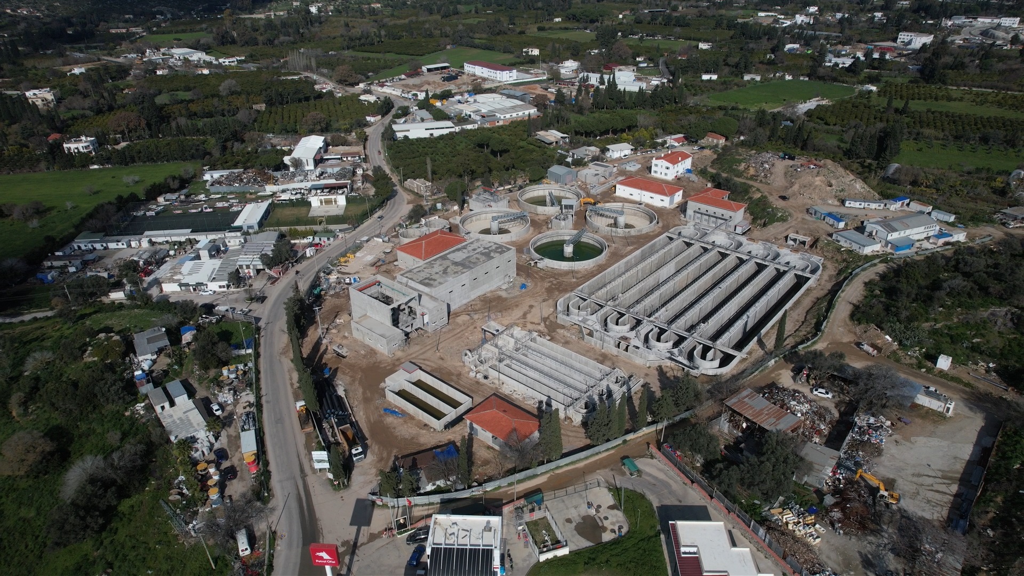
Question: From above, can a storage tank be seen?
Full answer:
Yes, the frame does contain a storage tank.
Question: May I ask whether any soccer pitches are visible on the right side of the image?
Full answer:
No, no soccer pitch is visible on the right side of the image.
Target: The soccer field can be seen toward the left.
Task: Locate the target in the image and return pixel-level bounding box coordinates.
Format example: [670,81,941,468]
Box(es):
[107,206,245,235]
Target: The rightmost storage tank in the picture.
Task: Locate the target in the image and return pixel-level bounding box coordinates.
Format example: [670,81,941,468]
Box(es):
[584,202,658,243]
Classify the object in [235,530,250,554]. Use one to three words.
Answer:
vehicle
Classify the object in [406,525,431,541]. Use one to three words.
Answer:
car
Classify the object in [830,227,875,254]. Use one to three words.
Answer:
building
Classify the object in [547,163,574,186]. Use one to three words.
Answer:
shed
